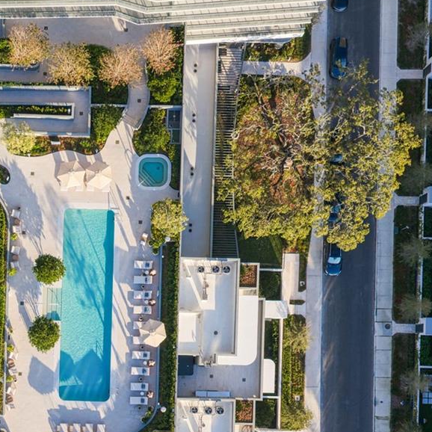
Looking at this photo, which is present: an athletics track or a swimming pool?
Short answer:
swimming pool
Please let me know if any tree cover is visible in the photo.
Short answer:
Yes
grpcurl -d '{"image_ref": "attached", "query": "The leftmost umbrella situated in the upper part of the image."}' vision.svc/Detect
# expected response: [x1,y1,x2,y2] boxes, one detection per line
[57,158,83,186]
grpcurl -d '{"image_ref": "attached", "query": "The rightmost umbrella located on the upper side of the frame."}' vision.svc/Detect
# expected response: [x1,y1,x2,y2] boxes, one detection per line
[85,160,112,186]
